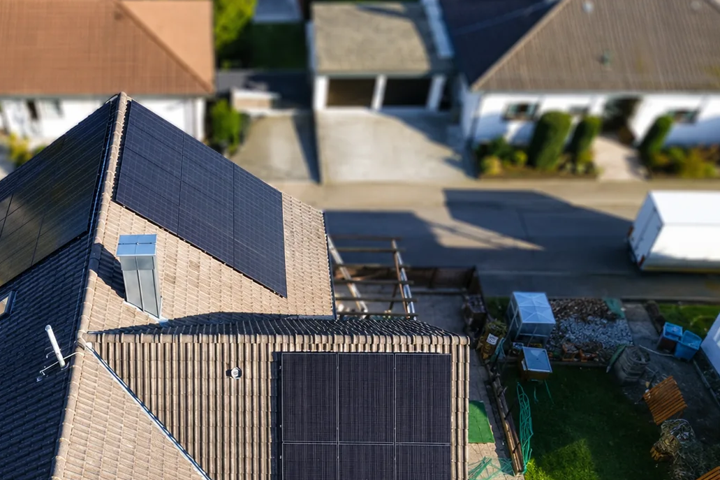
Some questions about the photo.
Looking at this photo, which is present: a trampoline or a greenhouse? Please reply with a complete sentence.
The one in the frame is a greenhouse.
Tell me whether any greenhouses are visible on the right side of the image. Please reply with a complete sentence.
Yes, on the right side of the image there is a greenhouse.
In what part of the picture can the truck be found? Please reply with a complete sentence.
The truck is in the right part of the image.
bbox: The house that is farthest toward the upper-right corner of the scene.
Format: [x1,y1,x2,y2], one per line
[440,0,720,147]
